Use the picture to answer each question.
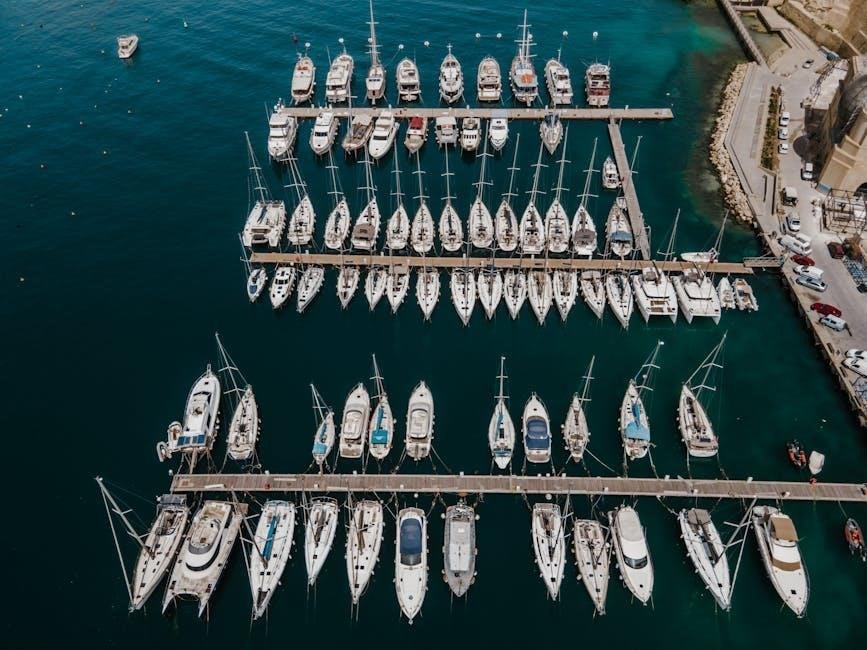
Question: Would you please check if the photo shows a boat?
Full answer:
Yes, the picture does show a boat.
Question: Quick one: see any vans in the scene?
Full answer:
Yes, there's a van here.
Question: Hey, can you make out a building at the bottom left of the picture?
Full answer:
No, I see no building at the bottom left of the picture.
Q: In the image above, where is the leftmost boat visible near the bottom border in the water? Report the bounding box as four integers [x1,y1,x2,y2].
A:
[95,476,196,633]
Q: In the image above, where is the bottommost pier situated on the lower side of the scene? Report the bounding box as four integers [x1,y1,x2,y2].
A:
[168,474,867,503]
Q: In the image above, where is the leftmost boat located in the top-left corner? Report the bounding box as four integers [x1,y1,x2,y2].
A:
[119,36,139,60]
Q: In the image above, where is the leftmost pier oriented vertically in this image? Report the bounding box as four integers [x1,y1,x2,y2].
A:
[606,118,651,259]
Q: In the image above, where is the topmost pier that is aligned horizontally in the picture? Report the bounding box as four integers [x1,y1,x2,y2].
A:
[290,107,675,121]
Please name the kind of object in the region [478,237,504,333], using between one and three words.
boat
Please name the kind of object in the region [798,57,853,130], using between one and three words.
building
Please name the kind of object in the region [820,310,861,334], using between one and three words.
vehicle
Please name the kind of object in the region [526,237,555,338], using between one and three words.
boat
